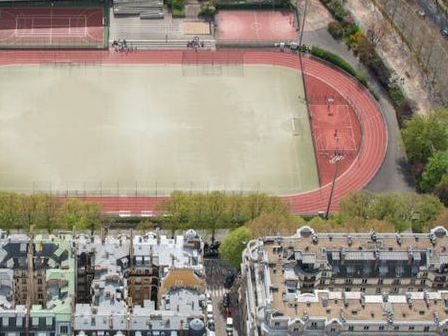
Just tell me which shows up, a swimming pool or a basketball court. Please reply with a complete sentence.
Of the two, only a basketball court appears.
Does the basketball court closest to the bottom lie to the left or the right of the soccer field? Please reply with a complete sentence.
You can see the basketball court closest to the bottom positioned to the right of the soccer field.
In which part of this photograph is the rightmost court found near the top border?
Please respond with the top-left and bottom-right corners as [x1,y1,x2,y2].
[213,10,299,39]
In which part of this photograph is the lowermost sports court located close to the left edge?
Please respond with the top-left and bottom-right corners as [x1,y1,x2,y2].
[1,8,102,42]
